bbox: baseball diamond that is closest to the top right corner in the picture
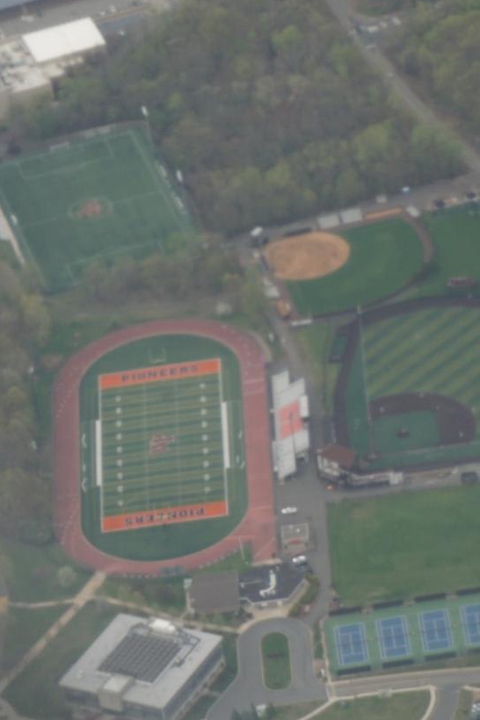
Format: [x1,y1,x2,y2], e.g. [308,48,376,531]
[264,215,432,317]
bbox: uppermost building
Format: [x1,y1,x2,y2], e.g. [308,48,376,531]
[23,18,108,67]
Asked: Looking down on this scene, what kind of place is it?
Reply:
sports ground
